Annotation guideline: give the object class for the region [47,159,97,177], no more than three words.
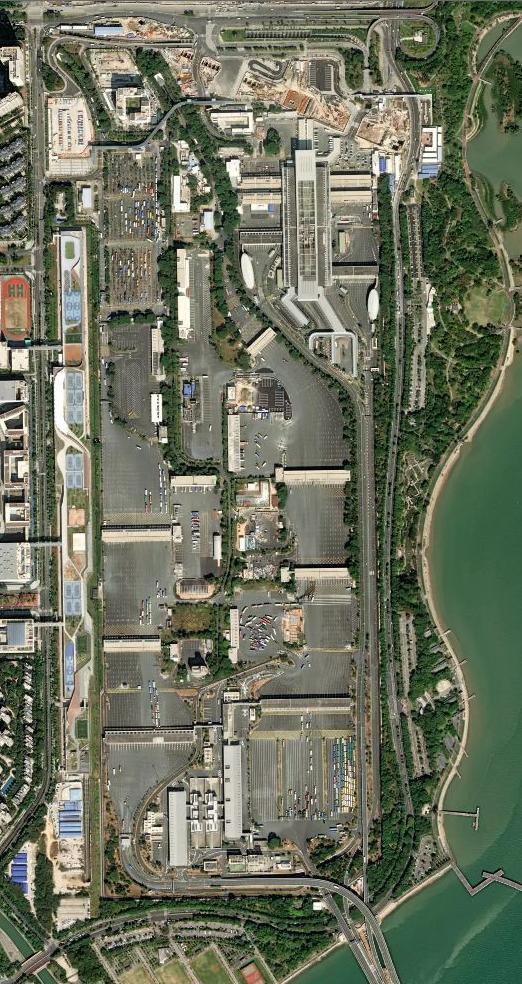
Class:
shed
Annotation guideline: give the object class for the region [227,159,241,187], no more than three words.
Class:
building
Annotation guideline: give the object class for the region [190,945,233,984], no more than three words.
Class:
sports field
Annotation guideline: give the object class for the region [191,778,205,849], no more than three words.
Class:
building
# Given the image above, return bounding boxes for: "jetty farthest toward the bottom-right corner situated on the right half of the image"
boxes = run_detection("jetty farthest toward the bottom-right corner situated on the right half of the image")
[451,861,522,895]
